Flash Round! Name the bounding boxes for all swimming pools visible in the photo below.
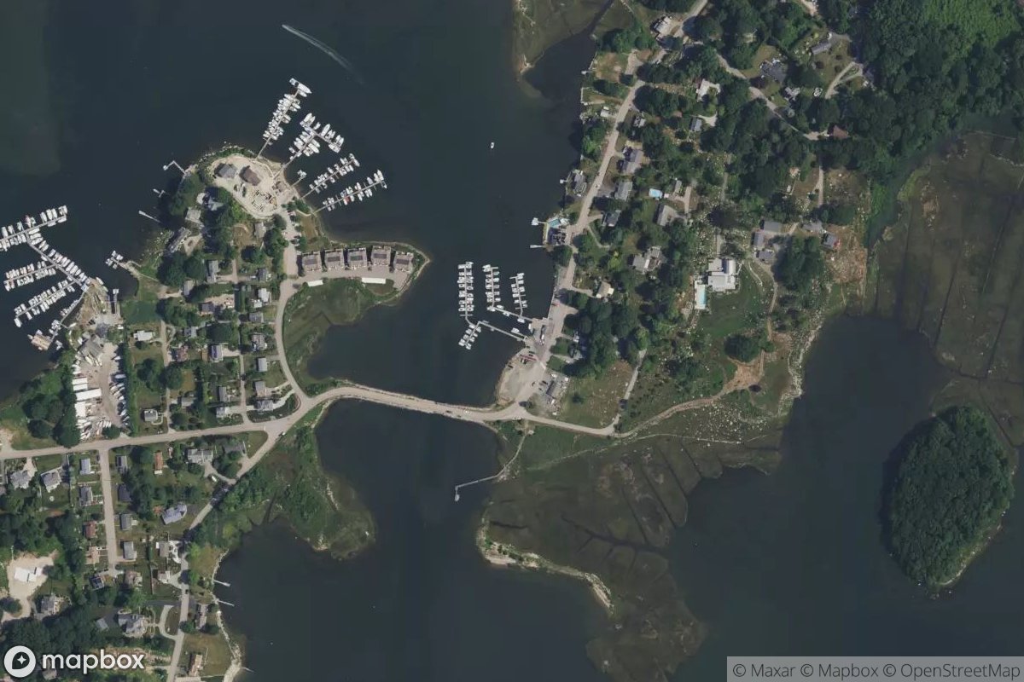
[547,217,563,230]
[695,281,706,308]
[649,189,662,198]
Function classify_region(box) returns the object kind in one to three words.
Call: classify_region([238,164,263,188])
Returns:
building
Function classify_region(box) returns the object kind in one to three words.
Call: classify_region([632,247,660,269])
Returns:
house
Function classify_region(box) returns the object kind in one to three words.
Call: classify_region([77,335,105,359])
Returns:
building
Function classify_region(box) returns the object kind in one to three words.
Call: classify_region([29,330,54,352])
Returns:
ship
